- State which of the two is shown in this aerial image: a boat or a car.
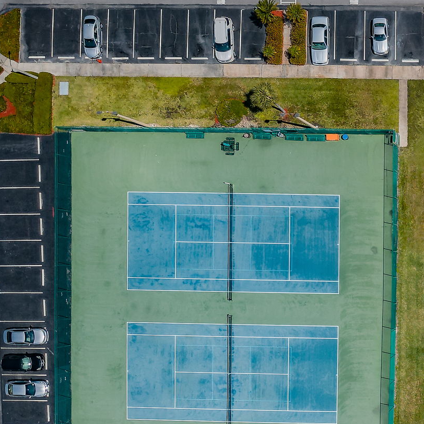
car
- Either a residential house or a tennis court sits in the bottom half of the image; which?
tennis court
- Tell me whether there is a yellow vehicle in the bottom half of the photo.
No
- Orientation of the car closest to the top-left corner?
up and down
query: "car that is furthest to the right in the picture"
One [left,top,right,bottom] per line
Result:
[371,16,390,57]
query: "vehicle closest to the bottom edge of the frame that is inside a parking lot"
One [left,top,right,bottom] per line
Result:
[5,379,52,399]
